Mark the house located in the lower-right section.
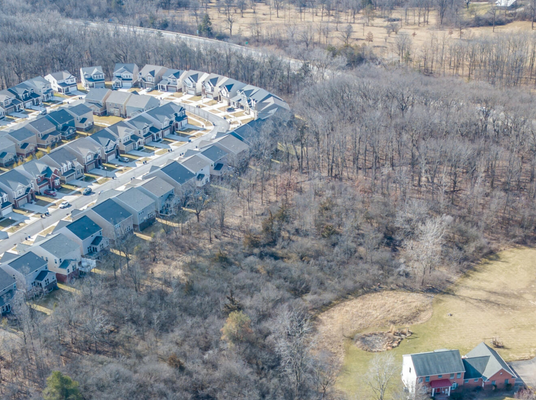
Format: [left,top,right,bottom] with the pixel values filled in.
[401,341,518,400]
